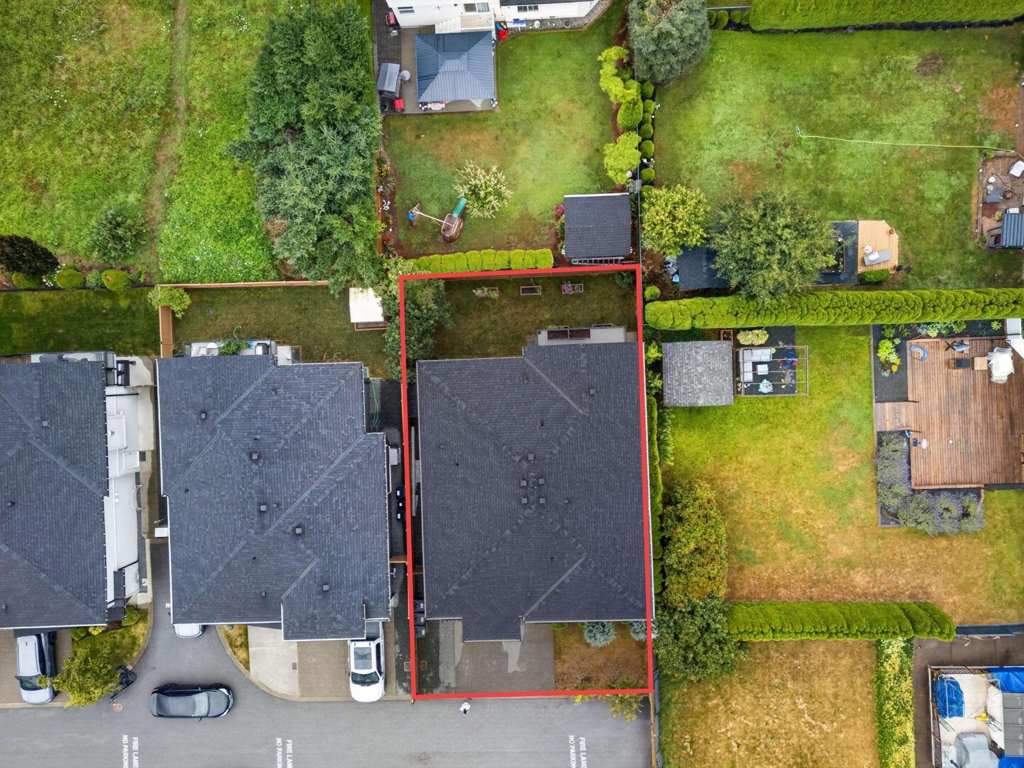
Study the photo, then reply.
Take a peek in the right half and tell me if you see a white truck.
No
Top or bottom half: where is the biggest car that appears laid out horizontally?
bottom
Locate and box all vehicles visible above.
[12,627,58,706]
[345,621,386,700]
[173,625,206,639]
[149,681,235,722]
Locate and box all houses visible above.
[390,0,595,33]
[415,342,651,642]
[0,362,146,630]
[154,355,395,642]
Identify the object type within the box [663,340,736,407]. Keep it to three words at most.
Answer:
shed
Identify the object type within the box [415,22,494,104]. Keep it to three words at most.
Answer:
gazebo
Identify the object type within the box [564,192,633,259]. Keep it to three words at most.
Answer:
shed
